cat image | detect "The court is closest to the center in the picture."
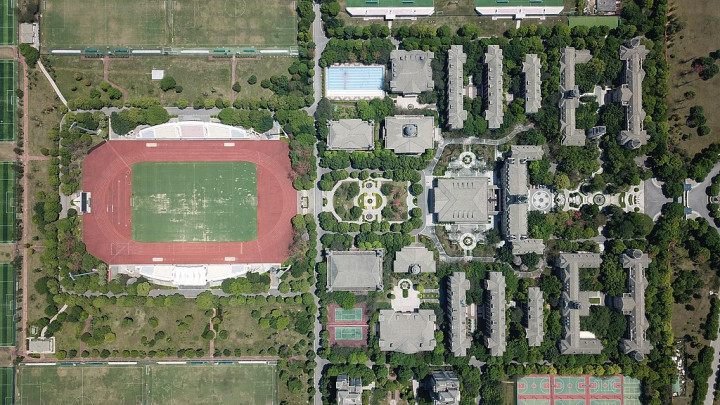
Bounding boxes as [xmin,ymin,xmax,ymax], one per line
[328,306,368,324]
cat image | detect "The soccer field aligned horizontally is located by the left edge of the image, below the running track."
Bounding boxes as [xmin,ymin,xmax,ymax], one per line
[16,364,147,405]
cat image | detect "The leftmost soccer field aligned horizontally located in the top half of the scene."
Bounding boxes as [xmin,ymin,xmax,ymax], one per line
[40,0,168,49]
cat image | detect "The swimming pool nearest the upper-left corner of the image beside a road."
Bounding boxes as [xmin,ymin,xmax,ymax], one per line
[325,64,385,98]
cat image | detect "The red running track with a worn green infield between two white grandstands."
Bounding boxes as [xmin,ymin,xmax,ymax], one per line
[82,141,297,264]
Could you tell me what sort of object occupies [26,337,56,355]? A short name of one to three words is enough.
building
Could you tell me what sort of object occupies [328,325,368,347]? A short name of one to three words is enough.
tennis court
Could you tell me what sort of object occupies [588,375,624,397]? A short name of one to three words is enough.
basketball court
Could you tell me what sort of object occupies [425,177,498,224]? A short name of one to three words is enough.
building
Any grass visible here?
Yes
